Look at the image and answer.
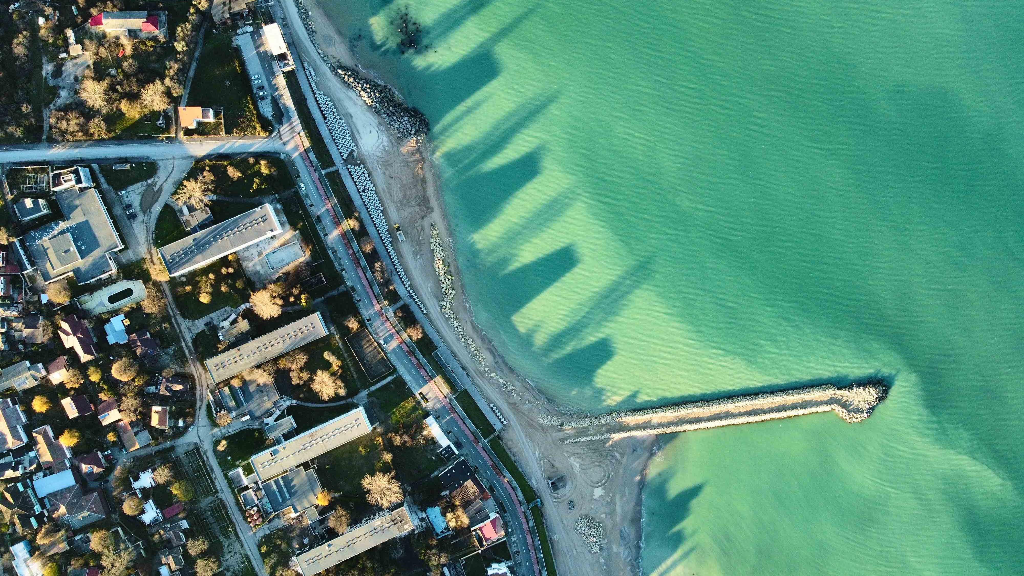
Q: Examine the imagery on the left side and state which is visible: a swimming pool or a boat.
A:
swimming pool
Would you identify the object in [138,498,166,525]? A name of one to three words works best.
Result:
house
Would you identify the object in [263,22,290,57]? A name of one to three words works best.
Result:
building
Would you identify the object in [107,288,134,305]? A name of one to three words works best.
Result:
swimming pool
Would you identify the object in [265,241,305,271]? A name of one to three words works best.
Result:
swimming pool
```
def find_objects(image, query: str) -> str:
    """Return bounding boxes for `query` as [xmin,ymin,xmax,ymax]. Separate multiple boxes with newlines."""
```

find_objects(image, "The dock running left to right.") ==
[557,384,886,439]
